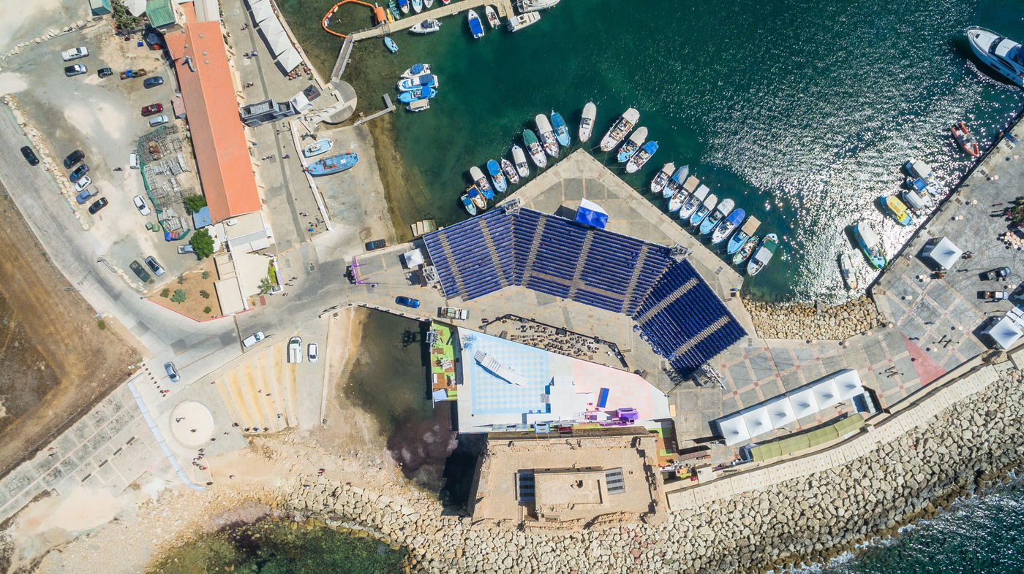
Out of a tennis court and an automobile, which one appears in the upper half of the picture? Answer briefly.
automobile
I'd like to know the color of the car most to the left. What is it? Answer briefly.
black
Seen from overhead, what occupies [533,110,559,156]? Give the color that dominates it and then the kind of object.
white boat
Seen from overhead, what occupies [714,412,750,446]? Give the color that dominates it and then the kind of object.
white tent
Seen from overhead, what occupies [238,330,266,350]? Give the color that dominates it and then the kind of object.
white vehicle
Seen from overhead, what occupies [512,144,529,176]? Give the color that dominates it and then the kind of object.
white boat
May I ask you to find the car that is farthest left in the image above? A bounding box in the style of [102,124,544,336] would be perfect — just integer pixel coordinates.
[17,144,38,166]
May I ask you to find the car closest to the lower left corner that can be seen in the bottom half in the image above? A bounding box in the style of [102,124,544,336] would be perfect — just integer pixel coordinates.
[162,360,179,384]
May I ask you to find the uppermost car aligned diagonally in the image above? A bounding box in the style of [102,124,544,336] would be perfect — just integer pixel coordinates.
[143,29,162,53]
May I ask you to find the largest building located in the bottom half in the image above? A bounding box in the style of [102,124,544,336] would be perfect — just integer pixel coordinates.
[471,428,666,525]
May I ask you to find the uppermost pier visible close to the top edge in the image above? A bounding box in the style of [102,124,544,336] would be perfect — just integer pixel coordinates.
[352,0,514,42]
